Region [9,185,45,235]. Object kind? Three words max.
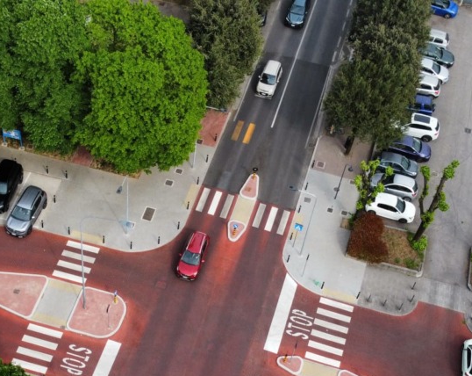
car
